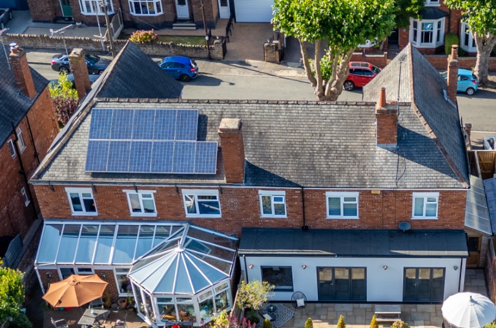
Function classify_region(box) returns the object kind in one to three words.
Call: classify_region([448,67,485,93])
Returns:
car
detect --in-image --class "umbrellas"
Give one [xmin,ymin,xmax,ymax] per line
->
[49,275,111,316]
[440,296,495,328]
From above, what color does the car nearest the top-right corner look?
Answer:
blue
